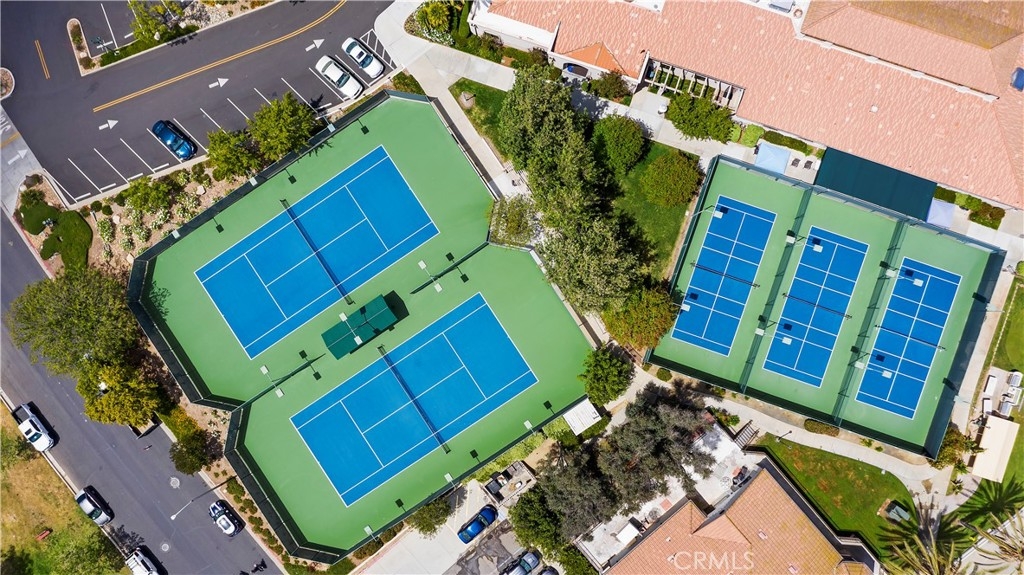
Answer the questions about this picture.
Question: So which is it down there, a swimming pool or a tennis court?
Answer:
tennis court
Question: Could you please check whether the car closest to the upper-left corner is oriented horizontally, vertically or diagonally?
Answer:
diagonally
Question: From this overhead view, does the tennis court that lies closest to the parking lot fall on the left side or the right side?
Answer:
left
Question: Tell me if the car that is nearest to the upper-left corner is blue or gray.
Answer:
blue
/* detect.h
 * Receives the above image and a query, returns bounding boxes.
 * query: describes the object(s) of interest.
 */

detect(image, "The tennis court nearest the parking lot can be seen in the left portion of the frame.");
[144,99,495,406]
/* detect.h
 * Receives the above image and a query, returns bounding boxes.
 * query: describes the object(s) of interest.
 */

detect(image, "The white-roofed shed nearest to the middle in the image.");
[563,398,601,436]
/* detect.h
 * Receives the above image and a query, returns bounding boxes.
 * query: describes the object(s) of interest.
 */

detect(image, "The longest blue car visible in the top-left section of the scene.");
[152,119,196,162]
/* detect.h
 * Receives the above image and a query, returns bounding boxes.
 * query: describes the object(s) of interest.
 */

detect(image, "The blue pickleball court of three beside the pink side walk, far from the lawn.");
[821,223,984,451]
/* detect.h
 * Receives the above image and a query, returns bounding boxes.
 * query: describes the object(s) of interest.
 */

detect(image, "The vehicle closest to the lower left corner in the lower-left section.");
[75,486,114,526]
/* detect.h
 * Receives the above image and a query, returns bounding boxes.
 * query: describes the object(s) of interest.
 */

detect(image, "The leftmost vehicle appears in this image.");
[9,400,56,453]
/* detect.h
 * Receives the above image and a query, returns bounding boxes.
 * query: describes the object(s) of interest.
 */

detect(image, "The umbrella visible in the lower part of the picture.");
[616,522,640,545]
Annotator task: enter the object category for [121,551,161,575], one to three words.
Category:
vehicle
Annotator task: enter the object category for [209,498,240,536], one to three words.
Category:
car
